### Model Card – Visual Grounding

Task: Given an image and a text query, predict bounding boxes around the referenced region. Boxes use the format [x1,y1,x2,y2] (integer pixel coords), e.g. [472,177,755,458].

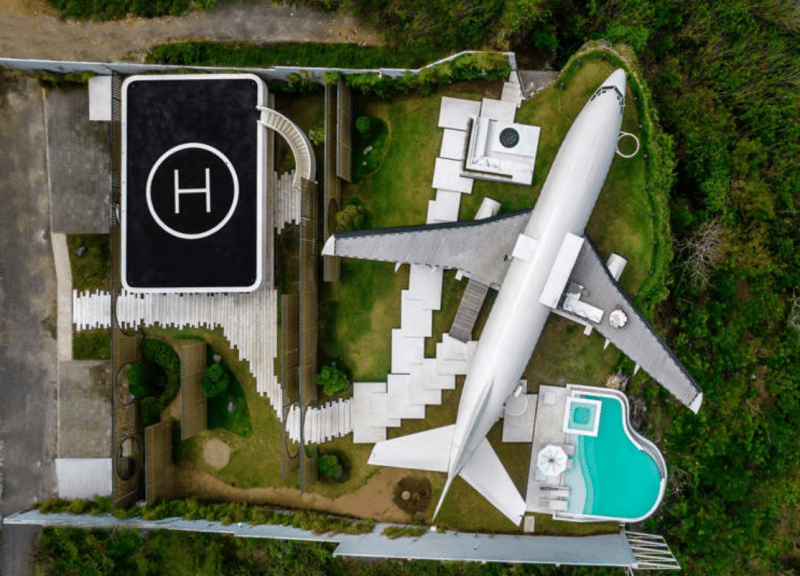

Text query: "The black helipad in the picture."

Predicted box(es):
[120,73,315,292]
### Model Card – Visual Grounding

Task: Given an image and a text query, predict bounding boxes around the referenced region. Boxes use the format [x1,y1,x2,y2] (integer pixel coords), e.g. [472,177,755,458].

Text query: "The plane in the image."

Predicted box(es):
[323,70,702,526]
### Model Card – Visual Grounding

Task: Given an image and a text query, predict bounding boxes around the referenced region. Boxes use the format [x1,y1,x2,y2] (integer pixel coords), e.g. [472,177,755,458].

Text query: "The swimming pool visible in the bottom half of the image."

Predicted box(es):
[555,383,669,523]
